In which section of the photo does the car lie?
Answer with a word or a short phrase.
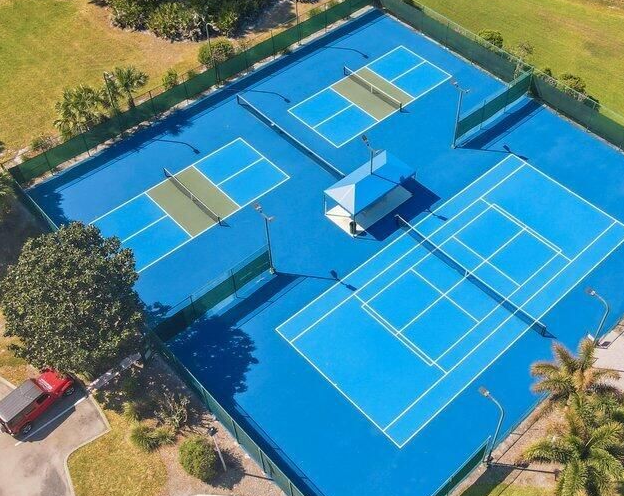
bottom left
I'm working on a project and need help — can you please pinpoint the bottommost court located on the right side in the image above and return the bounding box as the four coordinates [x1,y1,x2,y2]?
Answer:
[276,154,624,447]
